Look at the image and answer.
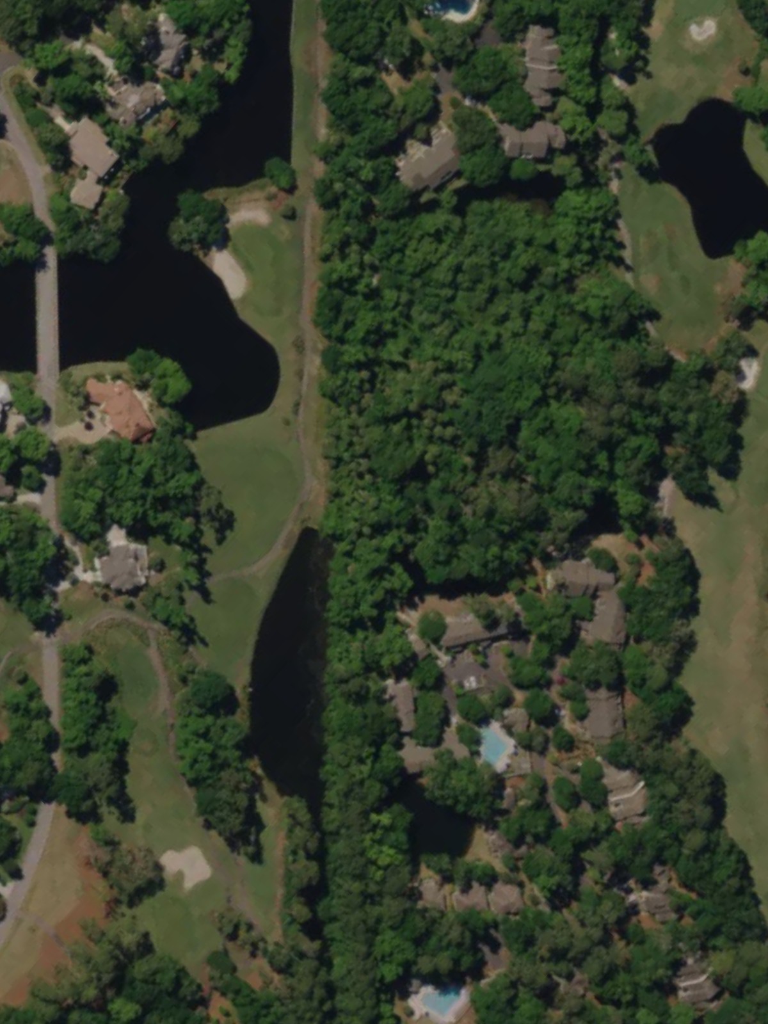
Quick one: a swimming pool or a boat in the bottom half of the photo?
swimming pool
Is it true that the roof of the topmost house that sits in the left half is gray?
Yes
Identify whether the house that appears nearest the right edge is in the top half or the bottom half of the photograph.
bottom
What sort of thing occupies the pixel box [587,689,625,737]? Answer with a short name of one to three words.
house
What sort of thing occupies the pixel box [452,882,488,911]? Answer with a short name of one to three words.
house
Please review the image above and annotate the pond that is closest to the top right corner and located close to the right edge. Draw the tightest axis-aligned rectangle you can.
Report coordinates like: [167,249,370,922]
[653,98,768,258]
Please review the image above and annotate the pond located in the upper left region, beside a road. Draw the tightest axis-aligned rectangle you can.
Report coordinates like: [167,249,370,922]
[0,0,292,430]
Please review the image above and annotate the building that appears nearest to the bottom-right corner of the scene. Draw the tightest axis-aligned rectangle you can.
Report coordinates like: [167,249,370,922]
[677,960,720,1010]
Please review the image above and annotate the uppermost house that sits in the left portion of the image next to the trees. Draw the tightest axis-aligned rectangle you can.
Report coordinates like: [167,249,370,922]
[155,15,188,69]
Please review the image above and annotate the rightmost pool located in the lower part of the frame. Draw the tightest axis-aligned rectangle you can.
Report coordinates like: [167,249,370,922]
[478,718,516,772]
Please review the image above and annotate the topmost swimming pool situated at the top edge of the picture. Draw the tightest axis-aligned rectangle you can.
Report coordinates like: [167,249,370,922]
[428,0,478,21]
